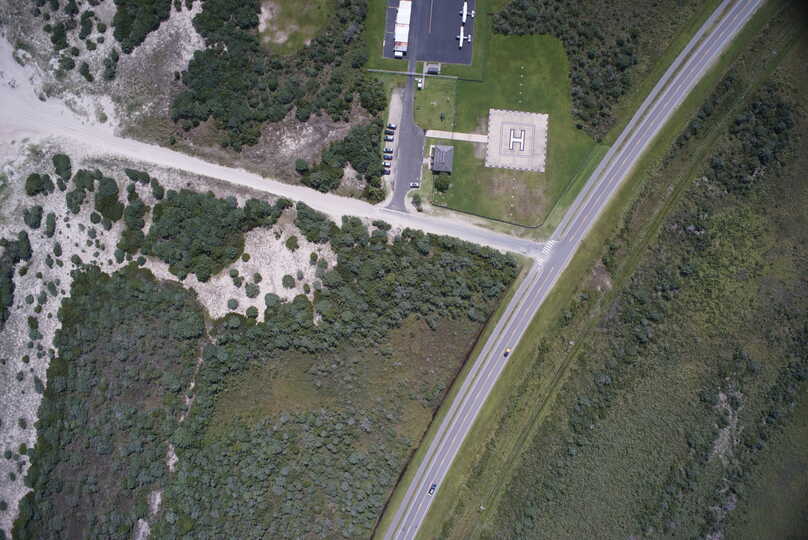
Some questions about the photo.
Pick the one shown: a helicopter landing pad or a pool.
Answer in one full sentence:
There is a helicopter landing pad in the scene.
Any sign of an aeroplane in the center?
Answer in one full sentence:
No, no aeroplane appears in the center.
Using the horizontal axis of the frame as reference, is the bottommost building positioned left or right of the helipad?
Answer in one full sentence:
The bottommost building appears to the left of the helipad in this view.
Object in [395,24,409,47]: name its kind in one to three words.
hangar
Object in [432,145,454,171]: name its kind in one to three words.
building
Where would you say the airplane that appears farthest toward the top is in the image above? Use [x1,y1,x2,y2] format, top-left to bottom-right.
[458,2,475,22]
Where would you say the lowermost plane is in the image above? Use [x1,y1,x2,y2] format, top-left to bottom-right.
[455,26,472,47]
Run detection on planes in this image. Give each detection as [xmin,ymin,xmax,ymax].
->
[458,2,475,22]
[455,26,472,47]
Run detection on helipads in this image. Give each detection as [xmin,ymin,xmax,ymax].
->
[485,108,549,172]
